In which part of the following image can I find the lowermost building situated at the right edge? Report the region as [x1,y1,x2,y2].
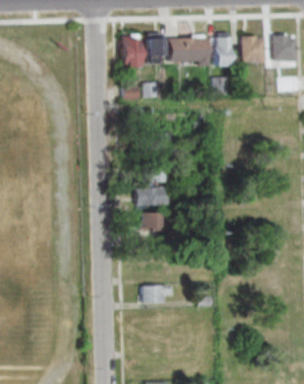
[276,76,300,94]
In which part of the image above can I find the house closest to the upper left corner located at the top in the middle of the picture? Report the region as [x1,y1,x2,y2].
[120,32,147,69]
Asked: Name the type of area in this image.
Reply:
sports ground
